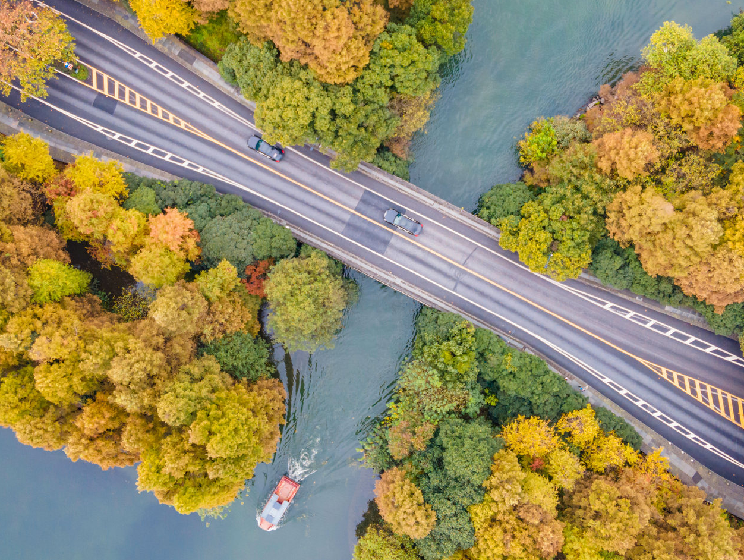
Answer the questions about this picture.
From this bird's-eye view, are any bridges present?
Yes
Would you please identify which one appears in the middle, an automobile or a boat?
automobile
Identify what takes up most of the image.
trees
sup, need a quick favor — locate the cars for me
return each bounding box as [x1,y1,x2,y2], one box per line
[246,134,286,163]
[383,207,424,237]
